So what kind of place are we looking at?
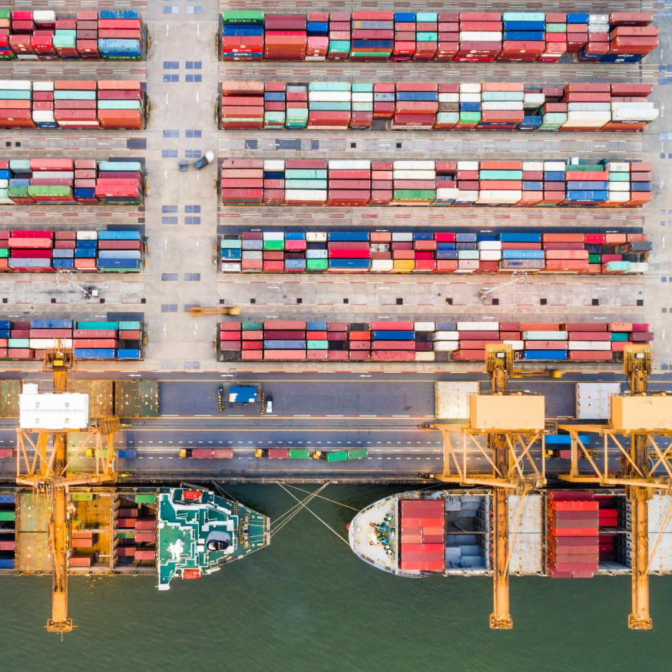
port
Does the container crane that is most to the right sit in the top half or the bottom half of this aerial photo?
bottom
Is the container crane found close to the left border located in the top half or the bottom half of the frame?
bottom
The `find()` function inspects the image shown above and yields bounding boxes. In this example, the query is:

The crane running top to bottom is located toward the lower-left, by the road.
[16,337,132,643]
